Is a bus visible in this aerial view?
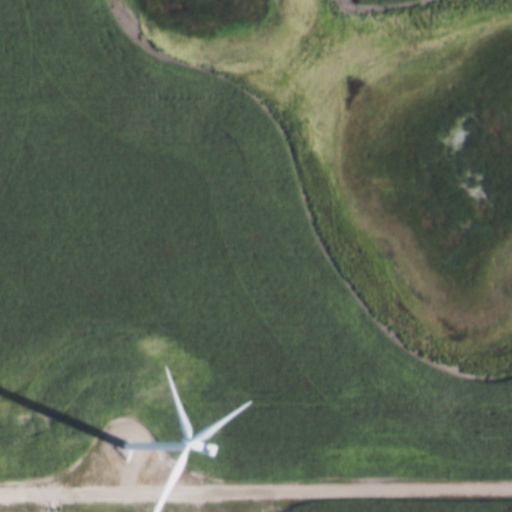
No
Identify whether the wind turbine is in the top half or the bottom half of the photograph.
bottom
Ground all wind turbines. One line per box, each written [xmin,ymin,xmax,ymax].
[122,366,252,512]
